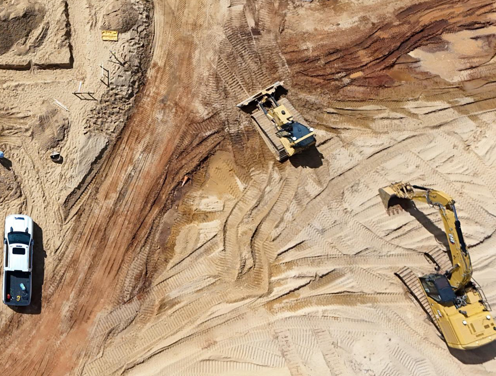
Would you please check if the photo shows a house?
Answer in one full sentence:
No, there's no house here.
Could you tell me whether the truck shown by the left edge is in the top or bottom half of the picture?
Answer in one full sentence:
Seen from above, the truck shown by the left edge lies in the bottom half of the view.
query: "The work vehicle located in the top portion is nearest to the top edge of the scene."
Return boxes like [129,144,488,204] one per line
[237,80,318,161]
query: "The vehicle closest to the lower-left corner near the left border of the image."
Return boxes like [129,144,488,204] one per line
[2,216,37,314]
